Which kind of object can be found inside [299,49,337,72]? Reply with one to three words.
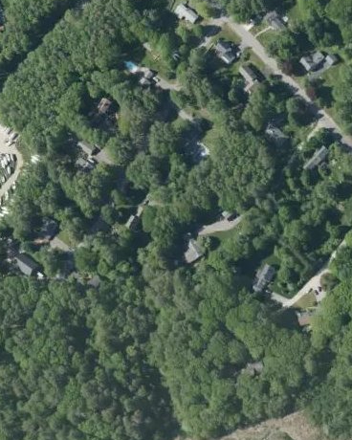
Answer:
house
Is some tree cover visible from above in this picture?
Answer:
Yes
